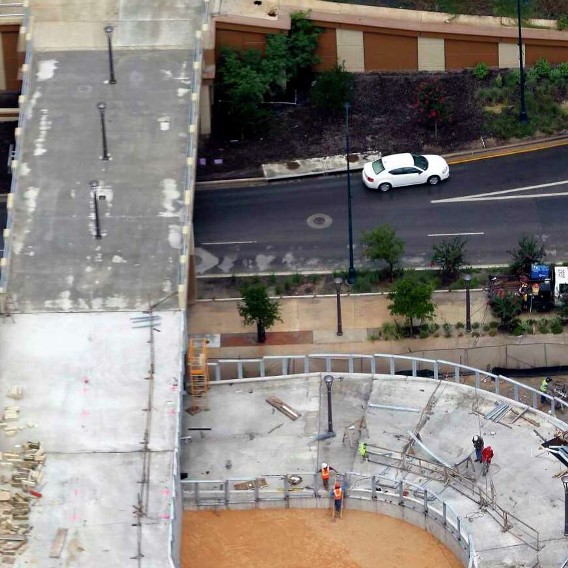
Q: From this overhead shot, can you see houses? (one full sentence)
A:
No, there appears to be no house in this shot.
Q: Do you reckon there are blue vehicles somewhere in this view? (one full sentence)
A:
No, no blue vehicle is visible in the scene.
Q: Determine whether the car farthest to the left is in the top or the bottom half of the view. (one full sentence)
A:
The top half of the photo is where the car farthest to the left is.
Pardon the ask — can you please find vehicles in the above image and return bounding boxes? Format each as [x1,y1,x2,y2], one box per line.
[487,261,568,316]
[358,148,451,191]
